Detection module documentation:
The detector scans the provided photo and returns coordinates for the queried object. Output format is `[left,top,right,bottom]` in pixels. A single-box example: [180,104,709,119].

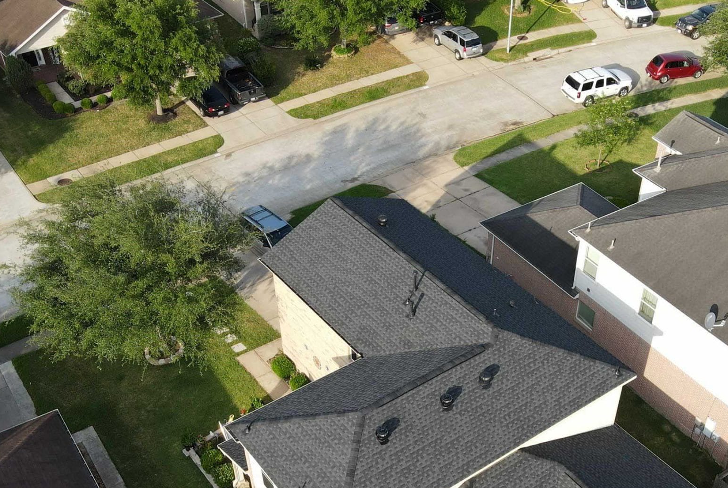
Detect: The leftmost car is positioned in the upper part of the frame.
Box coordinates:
[174,72,226,112]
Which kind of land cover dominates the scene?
buildings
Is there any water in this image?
No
